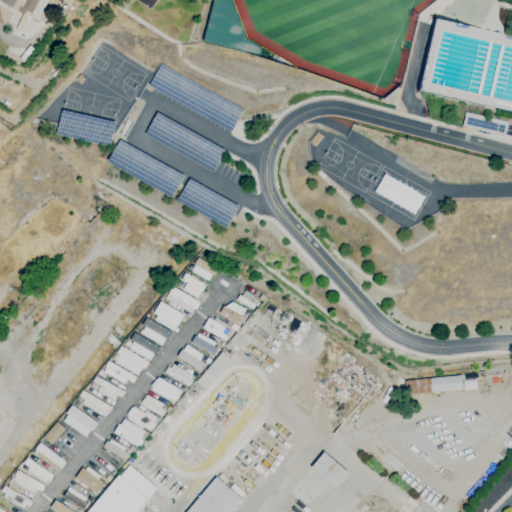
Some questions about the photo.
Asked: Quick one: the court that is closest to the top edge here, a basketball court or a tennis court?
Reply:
basketball court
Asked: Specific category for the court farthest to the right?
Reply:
basketball court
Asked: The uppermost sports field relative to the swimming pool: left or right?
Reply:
left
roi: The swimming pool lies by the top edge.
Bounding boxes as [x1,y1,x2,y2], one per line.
[420,15,512,112]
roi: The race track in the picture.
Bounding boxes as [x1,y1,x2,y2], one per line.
[160,362,272,480]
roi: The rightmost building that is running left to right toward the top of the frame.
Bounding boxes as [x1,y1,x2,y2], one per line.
[464,112,511,137]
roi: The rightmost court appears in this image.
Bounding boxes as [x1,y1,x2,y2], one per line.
[371,166,432,219]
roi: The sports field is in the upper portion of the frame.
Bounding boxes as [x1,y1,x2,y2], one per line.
[203,0,438,98]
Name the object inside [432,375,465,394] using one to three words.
building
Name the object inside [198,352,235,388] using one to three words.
shed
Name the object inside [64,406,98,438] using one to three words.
house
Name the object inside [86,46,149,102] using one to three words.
basketball court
